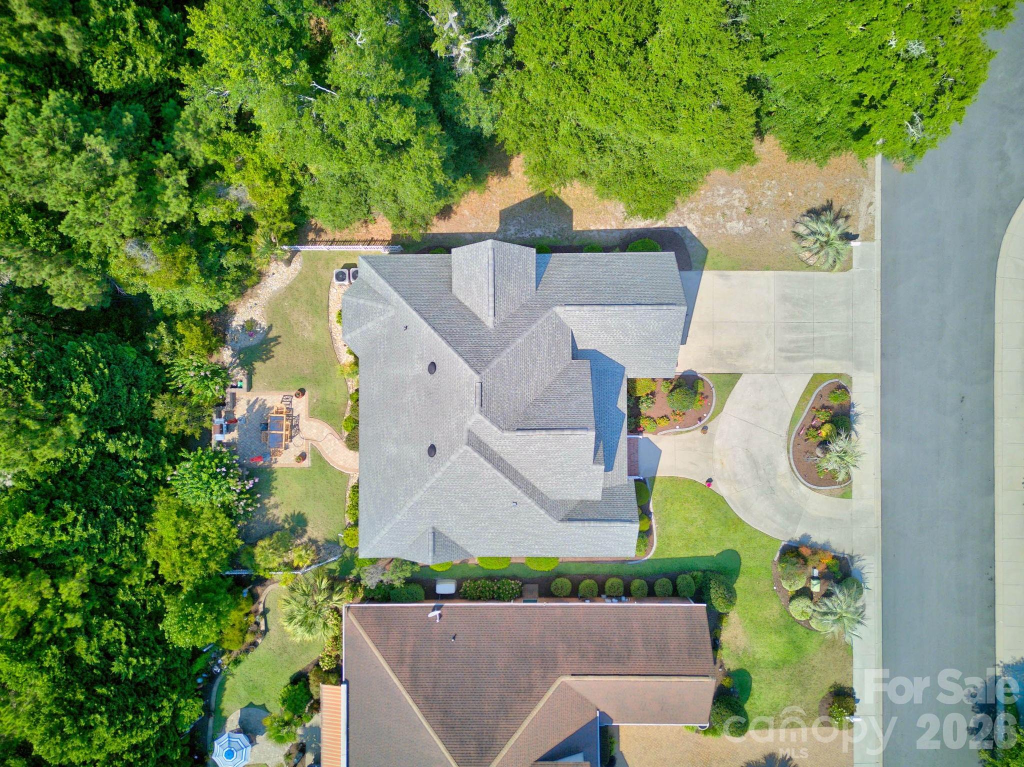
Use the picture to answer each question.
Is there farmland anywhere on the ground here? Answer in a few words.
No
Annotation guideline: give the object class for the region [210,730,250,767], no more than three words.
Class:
umbrella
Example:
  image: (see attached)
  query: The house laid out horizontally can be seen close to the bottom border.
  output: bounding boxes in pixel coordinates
[342,596,716,767]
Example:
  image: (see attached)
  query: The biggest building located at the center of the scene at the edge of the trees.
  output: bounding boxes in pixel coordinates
[341,241,687,566]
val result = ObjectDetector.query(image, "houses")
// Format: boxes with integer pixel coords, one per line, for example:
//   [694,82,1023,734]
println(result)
[342,596,716,767]
[341,241,687,566]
